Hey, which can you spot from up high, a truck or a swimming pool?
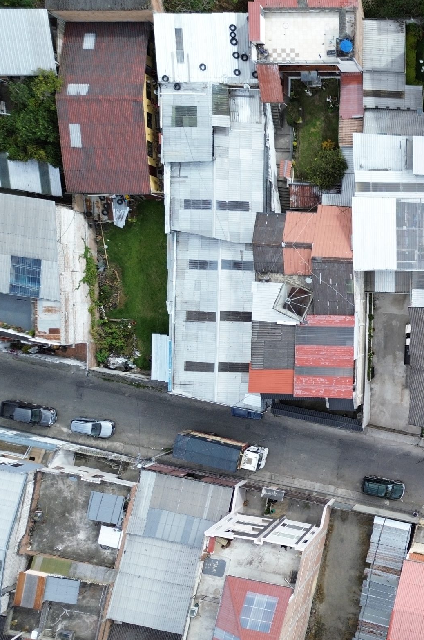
truck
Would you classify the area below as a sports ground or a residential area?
residential area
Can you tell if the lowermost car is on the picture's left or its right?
right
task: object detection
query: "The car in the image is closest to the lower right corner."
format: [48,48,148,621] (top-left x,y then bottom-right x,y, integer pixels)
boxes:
[362,475,406,501]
